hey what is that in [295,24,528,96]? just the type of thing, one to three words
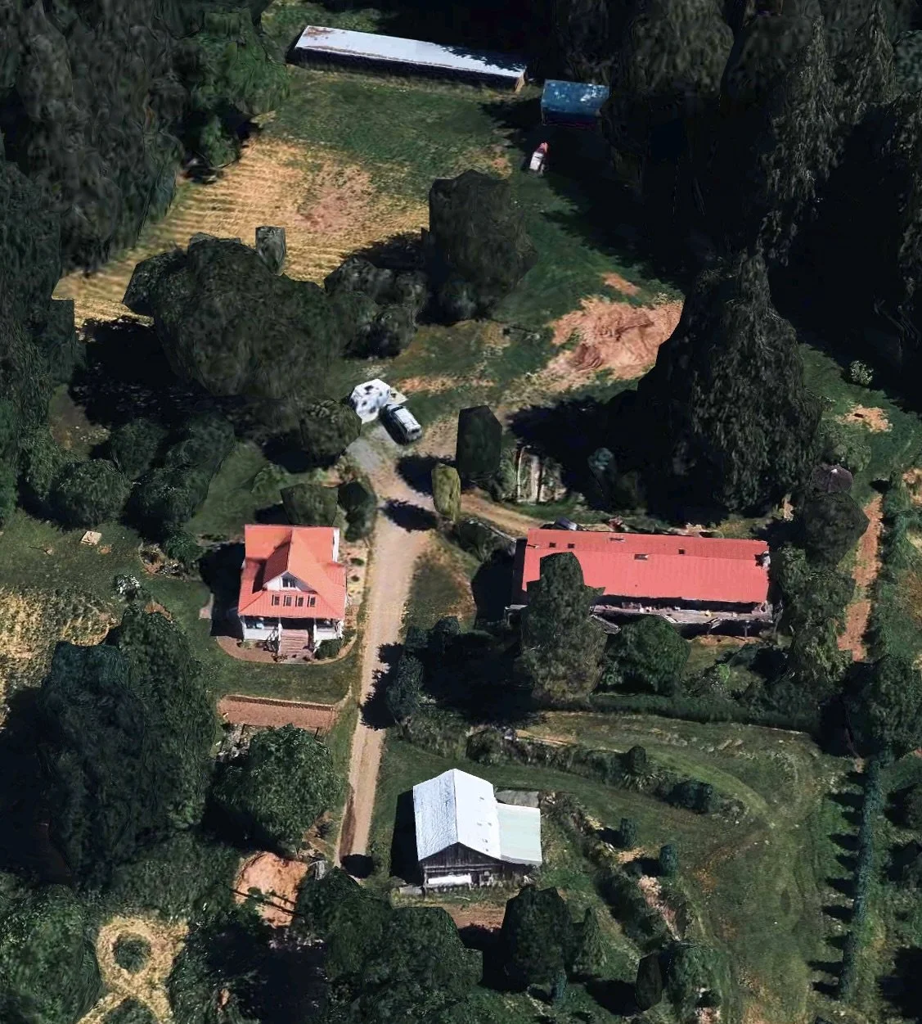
shed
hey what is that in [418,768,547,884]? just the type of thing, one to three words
barn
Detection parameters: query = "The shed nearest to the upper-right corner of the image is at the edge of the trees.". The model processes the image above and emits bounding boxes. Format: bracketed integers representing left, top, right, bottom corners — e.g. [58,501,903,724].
[540,82,609,132]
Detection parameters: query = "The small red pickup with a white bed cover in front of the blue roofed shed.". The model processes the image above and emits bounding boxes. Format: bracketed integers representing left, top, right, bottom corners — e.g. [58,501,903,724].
[528,142,549,171]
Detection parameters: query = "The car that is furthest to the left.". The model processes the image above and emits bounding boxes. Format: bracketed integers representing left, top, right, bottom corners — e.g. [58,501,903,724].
[385,404,424,440]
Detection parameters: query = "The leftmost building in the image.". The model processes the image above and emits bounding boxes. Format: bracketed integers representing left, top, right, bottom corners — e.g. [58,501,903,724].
[237,530,352,657]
